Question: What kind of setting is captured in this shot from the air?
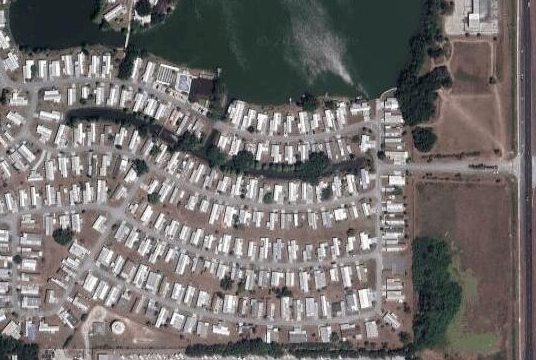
residential area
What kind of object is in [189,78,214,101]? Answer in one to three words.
building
